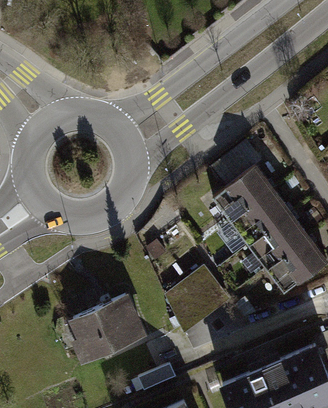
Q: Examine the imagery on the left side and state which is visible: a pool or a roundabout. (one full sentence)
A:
Looking on the left side, you will find a roundabout.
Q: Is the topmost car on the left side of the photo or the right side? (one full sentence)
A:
The topmost car sits on the right side.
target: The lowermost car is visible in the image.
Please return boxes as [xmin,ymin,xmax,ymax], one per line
[160,348,180,361]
